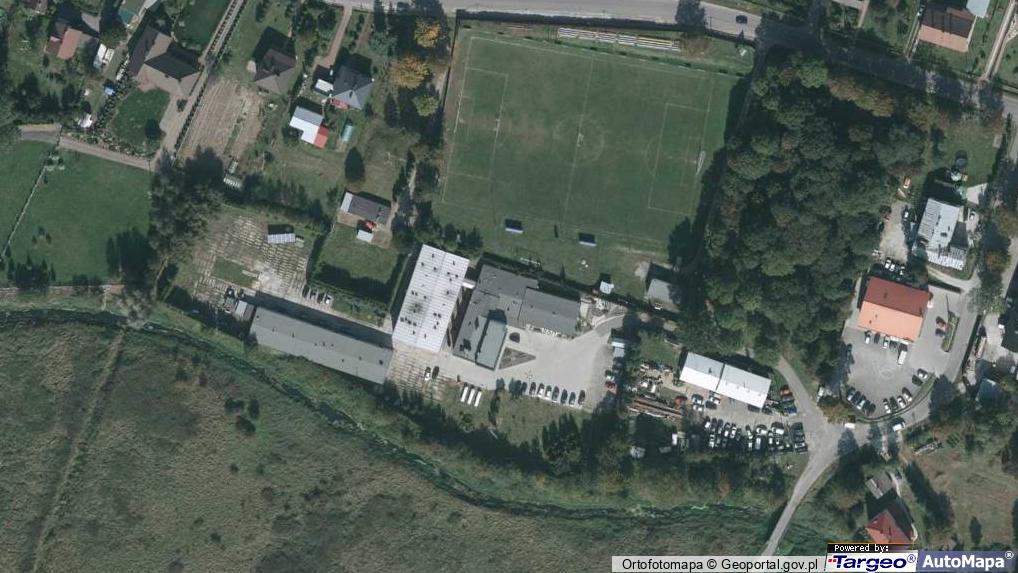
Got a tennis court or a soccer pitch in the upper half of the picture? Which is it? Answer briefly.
soccer pitch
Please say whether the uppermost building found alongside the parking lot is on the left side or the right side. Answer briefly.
right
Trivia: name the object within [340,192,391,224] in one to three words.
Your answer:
house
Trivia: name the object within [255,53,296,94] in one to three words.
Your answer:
house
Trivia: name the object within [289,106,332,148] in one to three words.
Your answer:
barn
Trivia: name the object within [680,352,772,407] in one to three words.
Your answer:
building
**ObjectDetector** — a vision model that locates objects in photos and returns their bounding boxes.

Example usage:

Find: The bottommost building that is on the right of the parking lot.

[975,379,999,410]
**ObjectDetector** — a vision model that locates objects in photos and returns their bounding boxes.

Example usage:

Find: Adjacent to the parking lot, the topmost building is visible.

[917,198,968,268]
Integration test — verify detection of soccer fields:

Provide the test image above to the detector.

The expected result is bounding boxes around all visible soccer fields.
[431,16,752,272]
